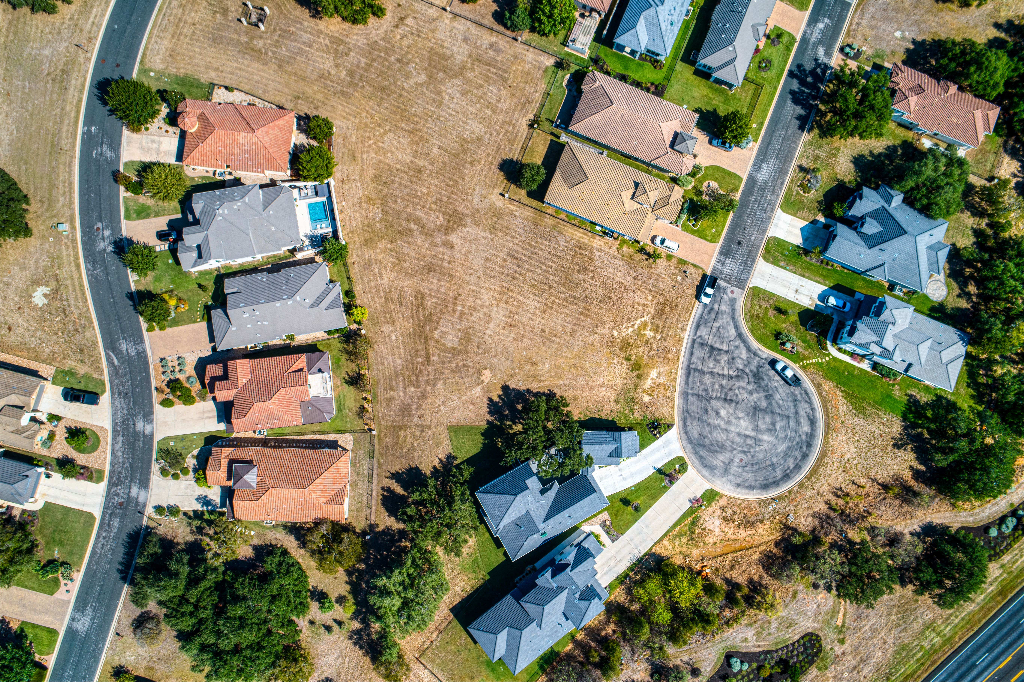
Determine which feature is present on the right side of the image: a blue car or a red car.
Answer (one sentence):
It is a blue car that can be seen on the right side of the image.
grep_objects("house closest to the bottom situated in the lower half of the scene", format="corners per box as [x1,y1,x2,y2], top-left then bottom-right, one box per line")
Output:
[467,533,610,676]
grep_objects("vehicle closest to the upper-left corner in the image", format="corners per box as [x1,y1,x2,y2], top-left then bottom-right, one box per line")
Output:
[156,229,178,241]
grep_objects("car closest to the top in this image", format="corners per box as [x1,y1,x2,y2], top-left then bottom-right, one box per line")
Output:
[710,136,735,154]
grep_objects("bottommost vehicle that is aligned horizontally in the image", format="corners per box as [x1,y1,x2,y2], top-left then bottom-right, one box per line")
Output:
[61,388,102,406]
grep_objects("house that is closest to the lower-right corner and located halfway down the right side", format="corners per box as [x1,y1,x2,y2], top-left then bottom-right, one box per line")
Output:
[845,294,972,392]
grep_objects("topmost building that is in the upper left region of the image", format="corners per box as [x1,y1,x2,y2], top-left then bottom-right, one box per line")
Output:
[177,98,297,175]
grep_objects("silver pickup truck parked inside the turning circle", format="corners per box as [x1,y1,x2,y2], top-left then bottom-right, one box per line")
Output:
[771,359,803,388]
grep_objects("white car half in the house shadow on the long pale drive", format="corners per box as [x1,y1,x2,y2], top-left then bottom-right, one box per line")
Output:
[823,295,852,312]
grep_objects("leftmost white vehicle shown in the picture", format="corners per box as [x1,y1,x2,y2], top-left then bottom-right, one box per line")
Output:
[652,235,681,253]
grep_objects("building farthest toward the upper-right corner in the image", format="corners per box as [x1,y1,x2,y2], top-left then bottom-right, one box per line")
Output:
[885,61,1001,150]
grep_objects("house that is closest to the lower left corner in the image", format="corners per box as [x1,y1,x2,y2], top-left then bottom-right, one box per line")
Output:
[0,454,50,505]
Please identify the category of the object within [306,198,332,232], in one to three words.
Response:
swimming pool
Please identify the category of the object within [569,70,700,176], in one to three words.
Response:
house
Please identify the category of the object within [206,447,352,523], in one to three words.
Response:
house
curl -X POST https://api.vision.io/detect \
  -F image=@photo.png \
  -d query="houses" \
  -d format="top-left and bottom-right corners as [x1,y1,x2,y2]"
[573,0,611,17]
[613,0,693,60]
[0,454,50,505]
[0,367,51,451]
[885,61,1001,150]
[475,430,640,562]
[177,98,297,175]
[697,0,776,89]
[569,70,700,176]
[210,262,347,351]
[544,141,685,244]
[178,184,303,272]
[205,351,338,434]
[467,533,610,676]
[845,294,972,392]
[206,447,352,523]
[822,184,951,293]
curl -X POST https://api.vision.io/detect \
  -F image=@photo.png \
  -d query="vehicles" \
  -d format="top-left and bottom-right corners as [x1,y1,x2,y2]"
[156,229,178,241]
[61,388,102,406]
[652,235,681,253]
[698,273,720,305]
[771,359,803,388]
[823,295,852,312]
[710,136,735,154]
